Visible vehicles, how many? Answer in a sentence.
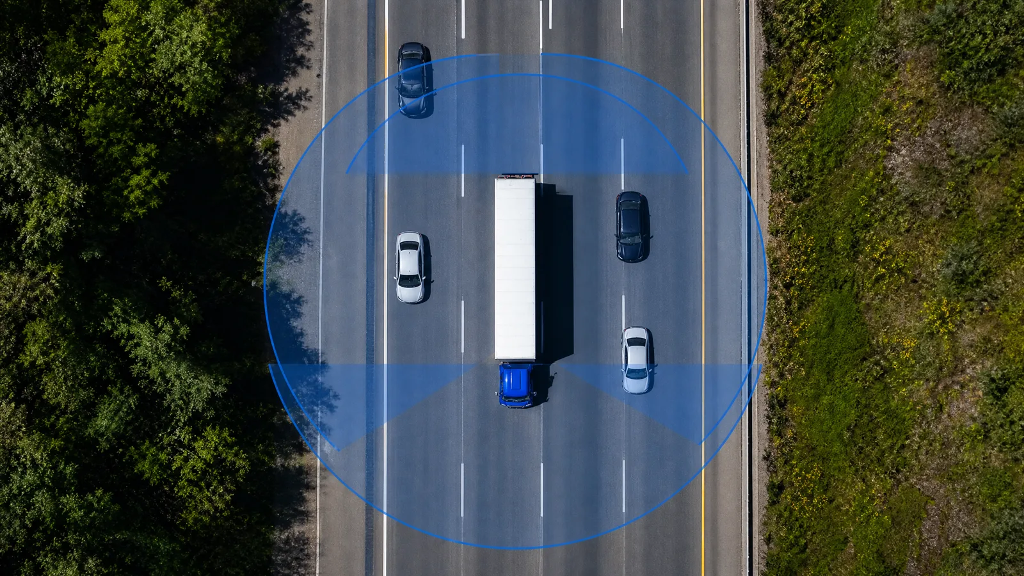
The count of vehicles comes to 5.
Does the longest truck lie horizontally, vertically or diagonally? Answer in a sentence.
The longest truck is laid out vertically.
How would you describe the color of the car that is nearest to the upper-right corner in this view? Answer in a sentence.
From above, the car that is nearest to the upper-right corner appears black.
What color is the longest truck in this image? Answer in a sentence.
The longest truck is white.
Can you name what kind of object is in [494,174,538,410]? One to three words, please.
truck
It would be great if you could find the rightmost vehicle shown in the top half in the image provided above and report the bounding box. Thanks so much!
[614,192,648,262]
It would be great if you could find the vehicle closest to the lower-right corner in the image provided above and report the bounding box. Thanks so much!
[619,326,653,393]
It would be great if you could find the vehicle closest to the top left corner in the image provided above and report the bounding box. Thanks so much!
[395,43,430,120]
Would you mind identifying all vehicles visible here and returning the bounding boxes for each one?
[393,231,426,304]
[395,43,430,120]
[494,174,538,410]
[619,326,653,393]
[614,192,648,262]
